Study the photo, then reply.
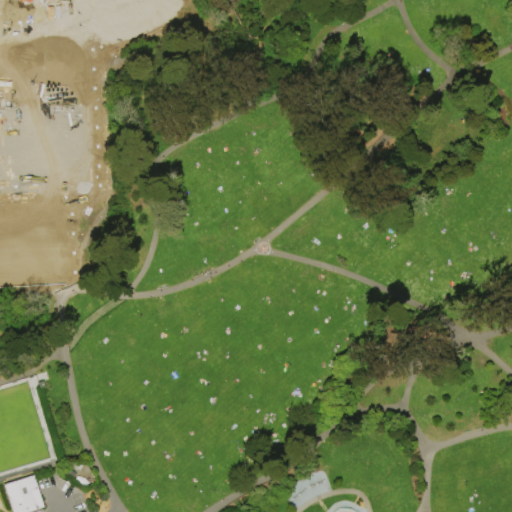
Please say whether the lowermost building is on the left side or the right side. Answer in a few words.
left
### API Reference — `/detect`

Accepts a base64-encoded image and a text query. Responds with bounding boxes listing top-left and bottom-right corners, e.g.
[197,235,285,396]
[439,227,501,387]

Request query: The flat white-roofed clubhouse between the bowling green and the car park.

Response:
[5,475,46,512]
